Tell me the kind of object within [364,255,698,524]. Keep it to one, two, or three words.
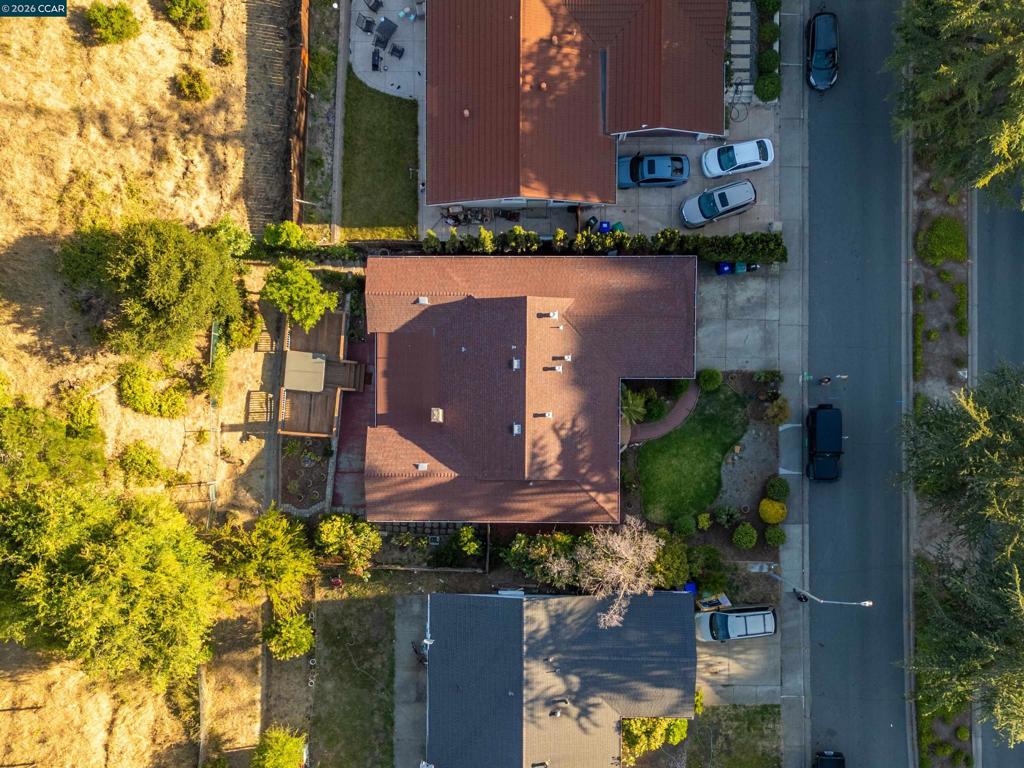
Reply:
house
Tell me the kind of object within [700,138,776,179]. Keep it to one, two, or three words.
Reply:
car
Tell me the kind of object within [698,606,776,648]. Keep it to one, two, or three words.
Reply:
car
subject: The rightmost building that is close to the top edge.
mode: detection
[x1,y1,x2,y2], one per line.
[424,0,728,204]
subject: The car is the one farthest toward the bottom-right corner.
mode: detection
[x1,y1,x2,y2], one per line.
[810,747,848,768]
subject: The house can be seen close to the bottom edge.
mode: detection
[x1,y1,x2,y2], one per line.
[425,584,702,768]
